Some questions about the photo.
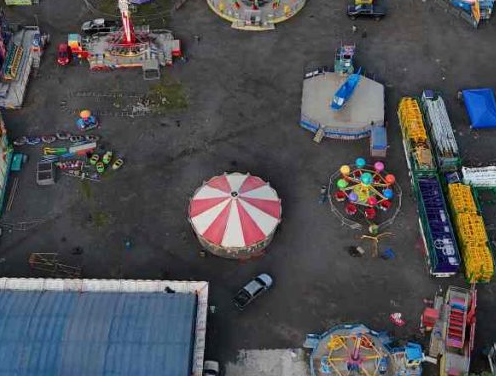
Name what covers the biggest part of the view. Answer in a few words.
paved ground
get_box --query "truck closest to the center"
[231,271,274,310]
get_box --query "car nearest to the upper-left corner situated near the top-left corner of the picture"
[54,40,69,62]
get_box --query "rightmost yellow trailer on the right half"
[442,164,496,284]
